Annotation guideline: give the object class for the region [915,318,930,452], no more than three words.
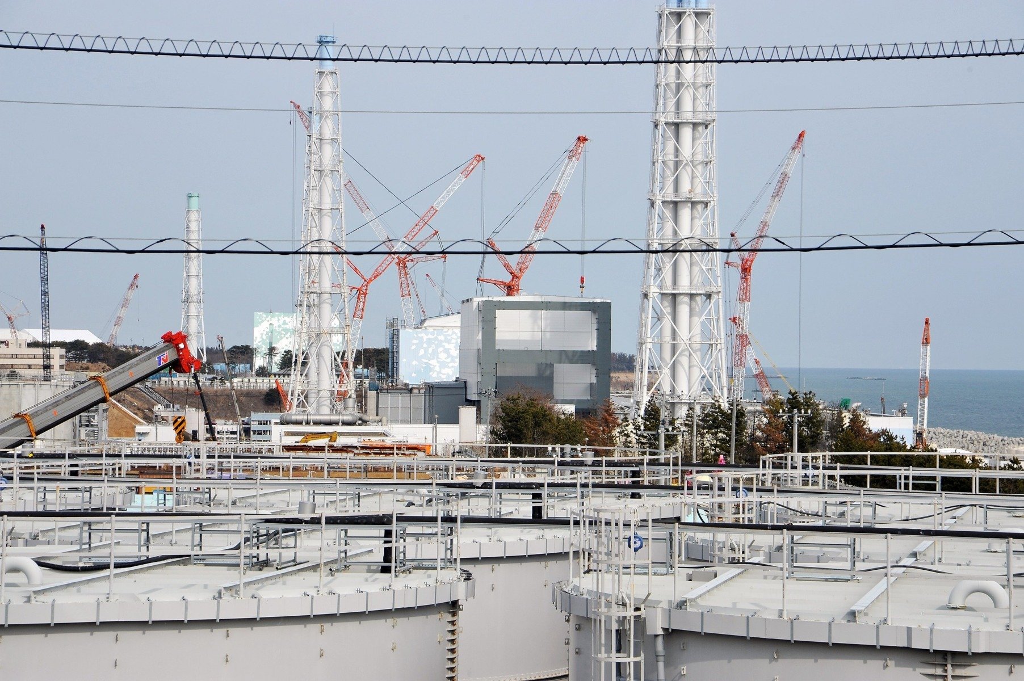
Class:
crane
